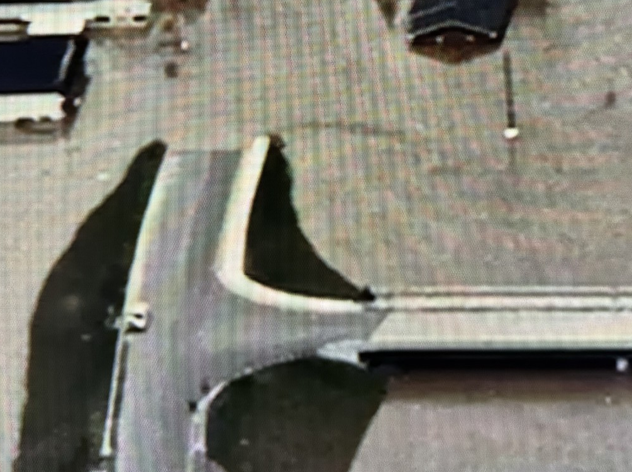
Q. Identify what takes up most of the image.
water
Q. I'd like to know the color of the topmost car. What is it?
white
